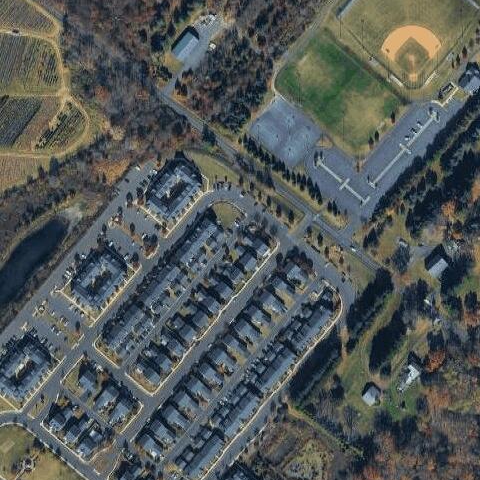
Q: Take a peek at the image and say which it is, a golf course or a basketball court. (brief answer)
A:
basketball court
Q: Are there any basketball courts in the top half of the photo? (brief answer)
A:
Yes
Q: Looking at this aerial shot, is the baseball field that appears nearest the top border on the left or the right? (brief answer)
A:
right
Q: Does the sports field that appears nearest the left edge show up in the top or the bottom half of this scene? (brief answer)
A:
top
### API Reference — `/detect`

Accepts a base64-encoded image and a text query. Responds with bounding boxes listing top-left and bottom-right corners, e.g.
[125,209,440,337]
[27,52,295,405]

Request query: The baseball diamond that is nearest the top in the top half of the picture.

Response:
[338,0,480,88]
